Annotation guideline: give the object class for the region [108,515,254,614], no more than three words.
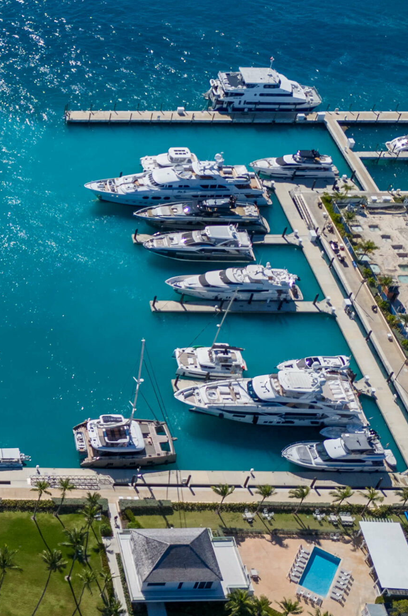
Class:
building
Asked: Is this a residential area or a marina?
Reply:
marina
